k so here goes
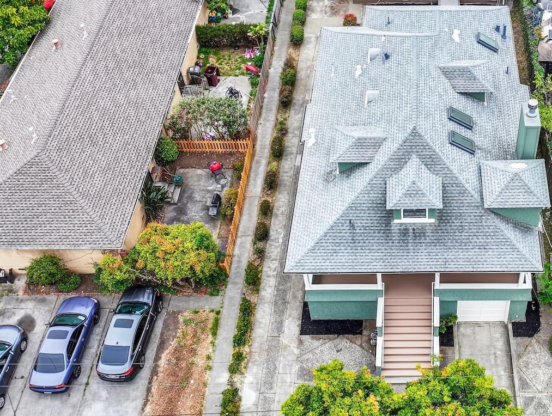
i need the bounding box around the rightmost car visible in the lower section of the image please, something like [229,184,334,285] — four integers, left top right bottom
[93,286,157,375]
